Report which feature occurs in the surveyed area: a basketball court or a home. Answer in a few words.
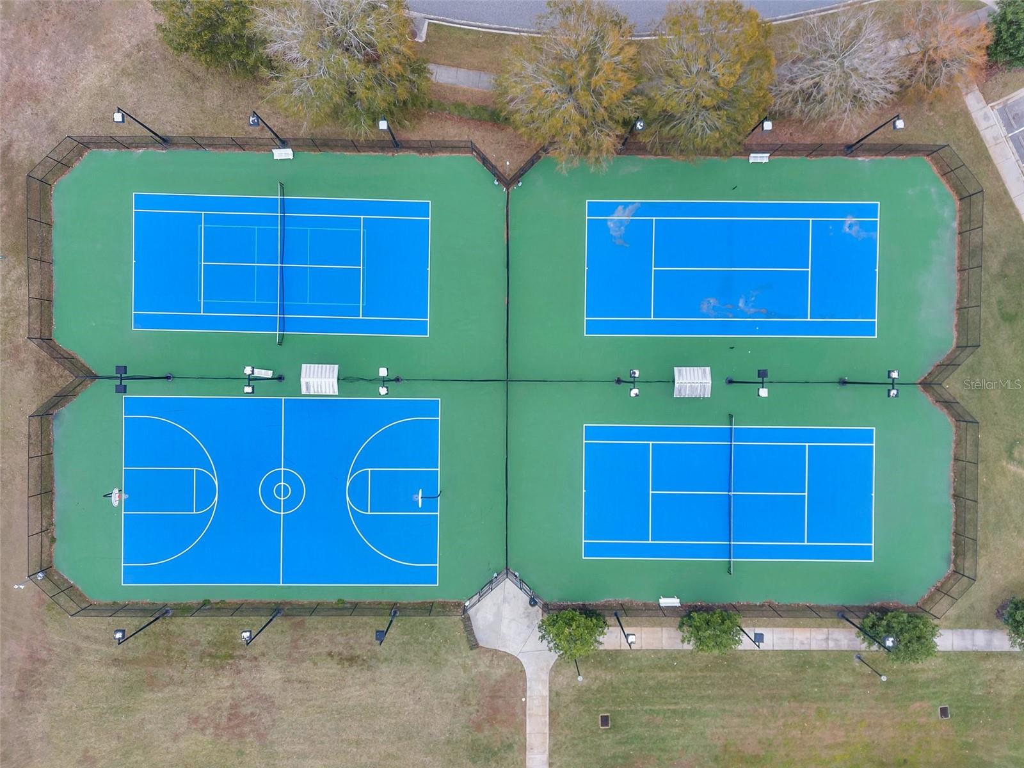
basketball court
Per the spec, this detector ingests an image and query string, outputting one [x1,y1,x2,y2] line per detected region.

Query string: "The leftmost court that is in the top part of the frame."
[51,150,507,380]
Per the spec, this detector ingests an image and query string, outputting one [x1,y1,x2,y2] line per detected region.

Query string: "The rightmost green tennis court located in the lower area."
[508,381,957,606]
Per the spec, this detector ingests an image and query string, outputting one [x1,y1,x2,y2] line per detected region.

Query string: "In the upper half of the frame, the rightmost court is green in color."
[507,156,959,383]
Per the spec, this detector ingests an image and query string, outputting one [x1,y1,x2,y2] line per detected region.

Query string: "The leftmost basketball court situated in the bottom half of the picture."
[51,378,507,603]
